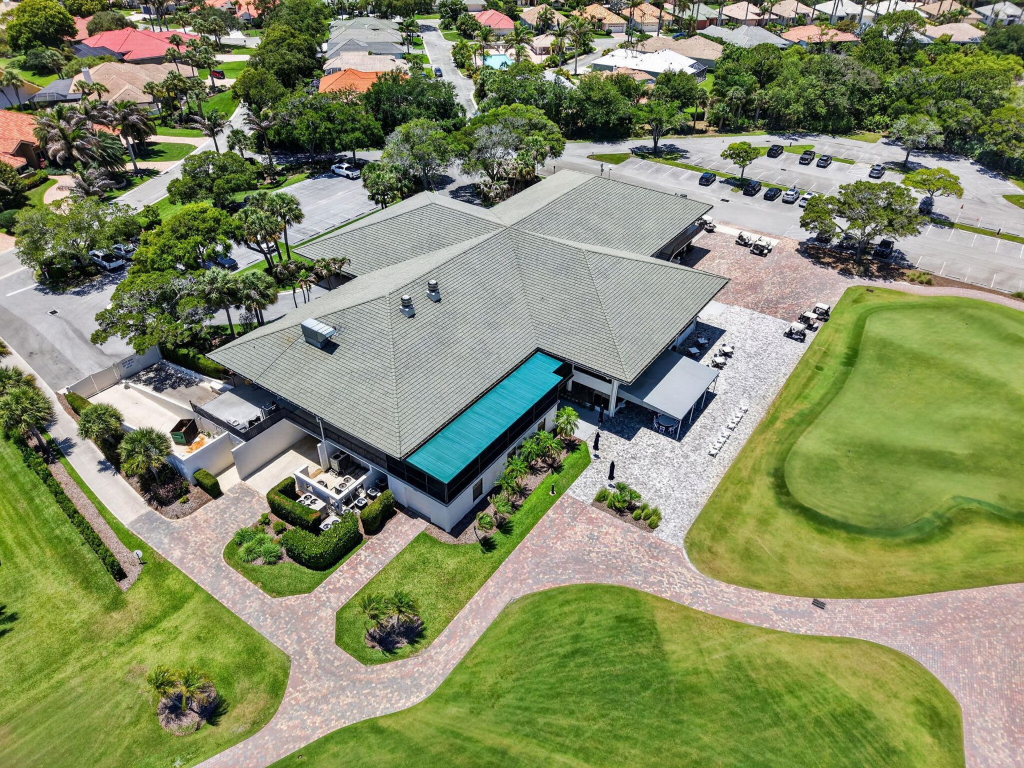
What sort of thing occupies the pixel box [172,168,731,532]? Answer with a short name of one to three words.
building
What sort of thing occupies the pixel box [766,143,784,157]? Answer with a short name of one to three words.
car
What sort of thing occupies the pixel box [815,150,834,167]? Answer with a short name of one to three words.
car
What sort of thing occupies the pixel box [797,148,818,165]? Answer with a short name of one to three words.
vehicle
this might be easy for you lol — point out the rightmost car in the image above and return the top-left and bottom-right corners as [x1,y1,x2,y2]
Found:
[917,196,937,213]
